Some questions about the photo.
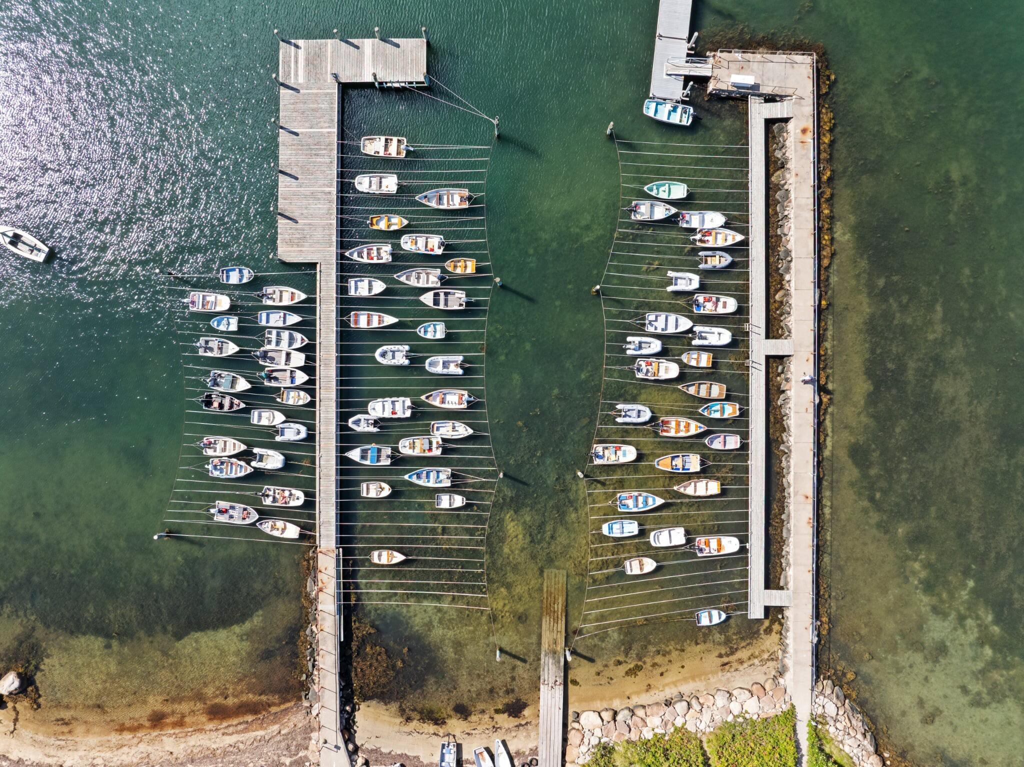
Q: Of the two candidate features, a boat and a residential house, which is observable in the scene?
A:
boat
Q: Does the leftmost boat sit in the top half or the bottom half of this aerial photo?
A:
top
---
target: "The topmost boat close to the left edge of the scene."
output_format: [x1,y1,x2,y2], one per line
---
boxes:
[0,228,52,262]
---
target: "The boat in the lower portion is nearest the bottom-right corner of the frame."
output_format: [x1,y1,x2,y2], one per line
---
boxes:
[694,610,726,626]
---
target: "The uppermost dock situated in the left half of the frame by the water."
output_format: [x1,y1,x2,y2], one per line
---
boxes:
[278,39,426,604]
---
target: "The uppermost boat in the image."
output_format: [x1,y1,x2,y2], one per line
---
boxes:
[643,100,702,125]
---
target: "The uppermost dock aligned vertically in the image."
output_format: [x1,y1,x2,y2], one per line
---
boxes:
[649,0,693,103]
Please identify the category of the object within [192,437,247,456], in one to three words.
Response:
boat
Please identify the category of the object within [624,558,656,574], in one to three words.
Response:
boat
